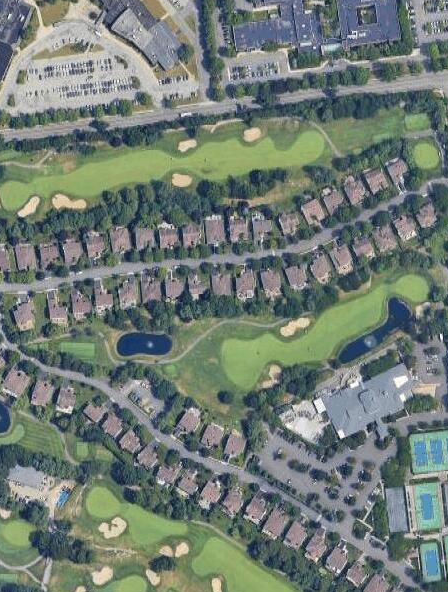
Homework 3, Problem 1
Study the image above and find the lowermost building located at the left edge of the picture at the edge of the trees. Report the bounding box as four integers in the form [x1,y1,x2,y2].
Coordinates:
[7,464,43,486]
